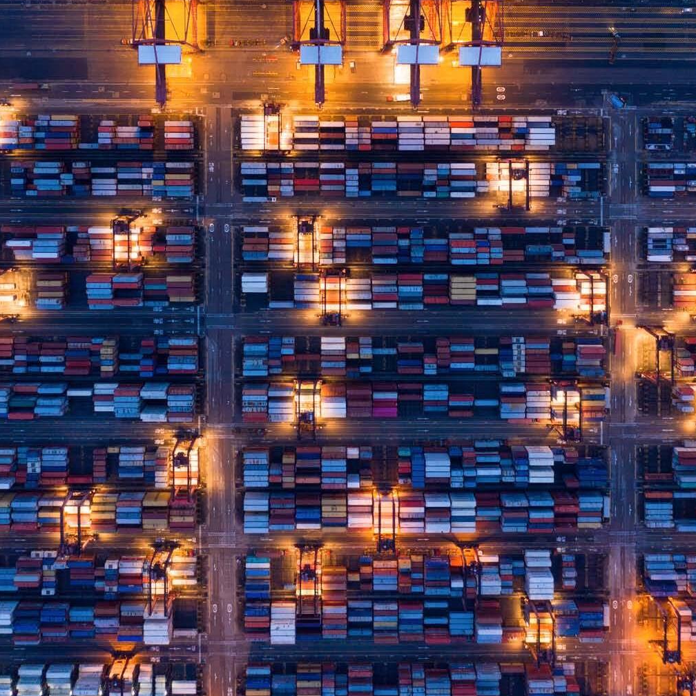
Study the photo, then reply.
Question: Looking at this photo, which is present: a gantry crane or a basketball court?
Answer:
gantry crane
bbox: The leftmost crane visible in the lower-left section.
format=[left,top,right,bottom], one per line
[59,485,94,556]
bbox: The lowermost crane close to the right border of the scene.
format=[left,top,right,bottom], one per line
[658,649,695,696]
